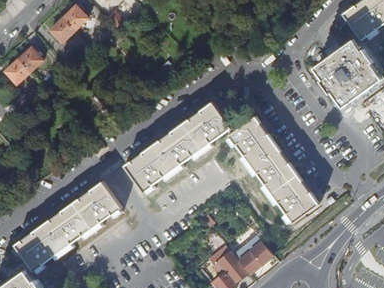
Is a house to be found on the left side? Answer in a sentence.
Yes, there is a house on the left side.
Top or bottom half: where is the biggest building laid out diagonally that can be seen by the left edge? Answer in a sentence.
The biggest building laid out diagonally that can be seen by the left edge is in the bottom half of the image.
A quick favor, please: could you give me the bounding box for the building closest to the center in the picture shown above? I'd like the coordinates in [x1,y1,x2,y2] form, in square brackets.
[124,100,233,196]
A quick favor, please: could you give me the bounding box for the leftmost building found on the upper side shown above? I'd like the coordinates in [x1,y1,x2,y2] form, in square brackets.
[4,46,44,86]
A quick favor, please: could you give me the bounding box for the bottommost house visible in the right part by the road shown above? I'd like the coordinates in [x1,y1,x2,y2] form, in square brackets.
[211,235,280,288]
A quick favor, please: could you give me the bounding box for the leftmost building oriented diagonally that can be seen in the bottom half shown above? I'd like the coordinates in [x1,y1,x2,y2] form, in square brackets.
[14,180,126,276]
